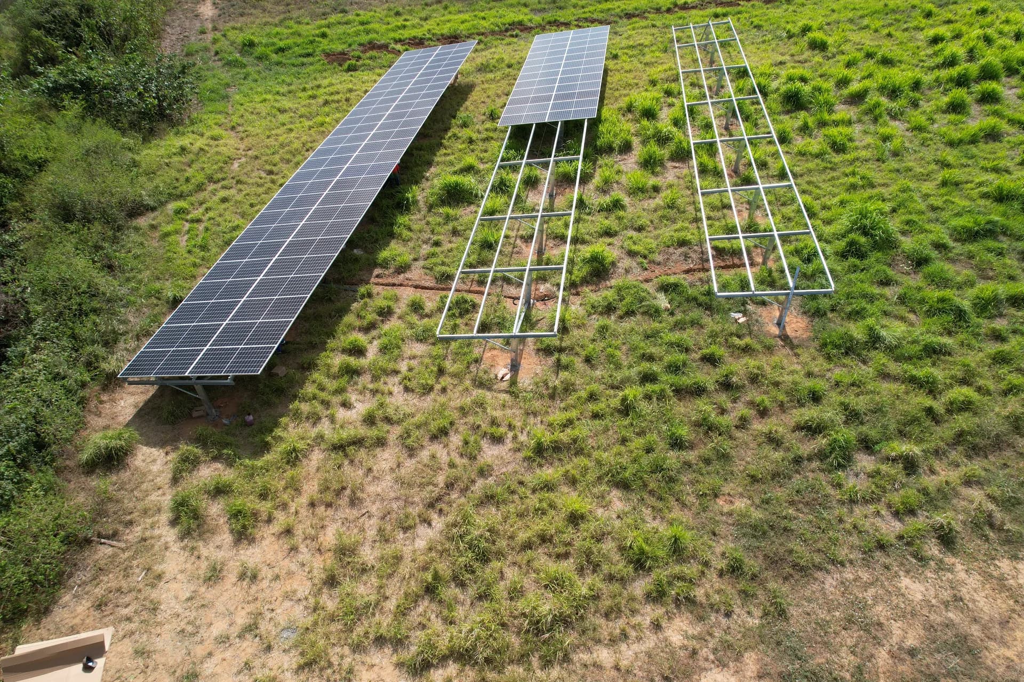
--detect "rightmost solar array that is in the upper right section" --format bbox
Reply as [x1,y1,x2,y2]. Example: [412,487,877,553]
[673,19,833,331]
